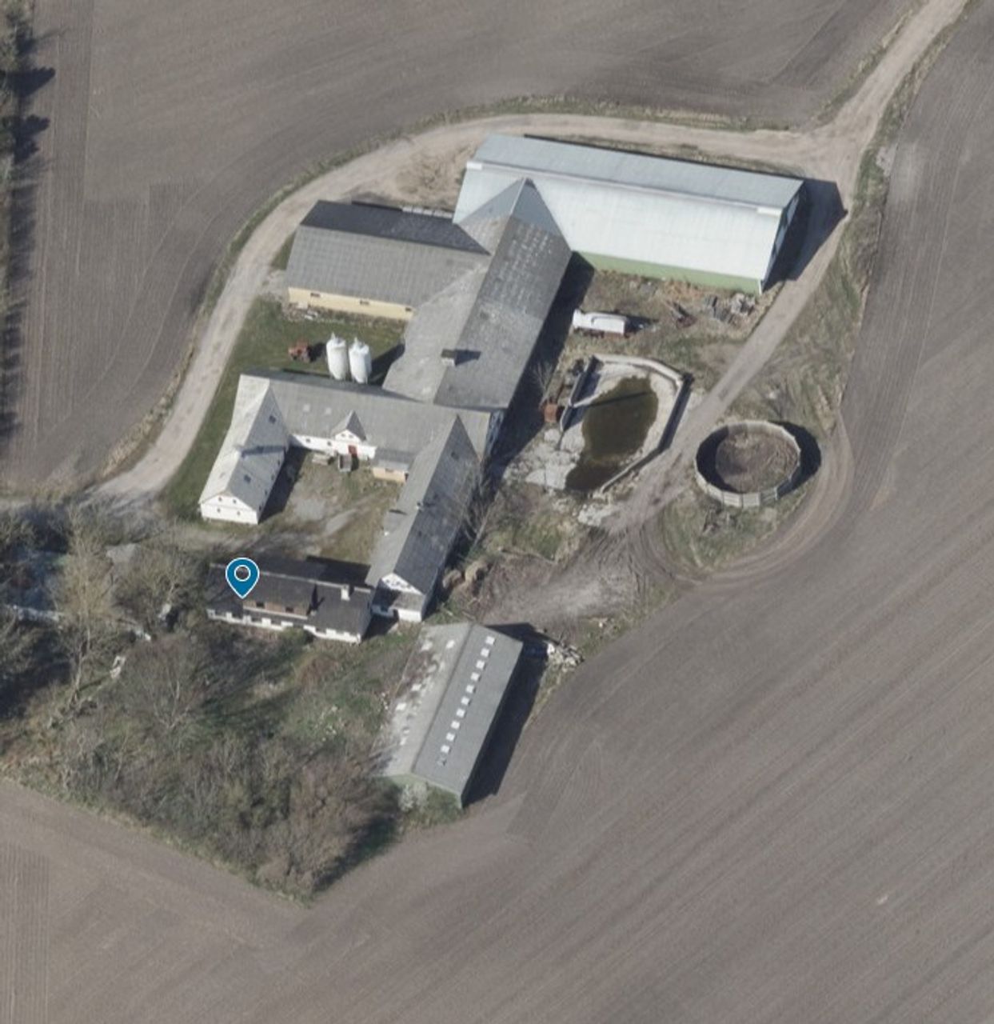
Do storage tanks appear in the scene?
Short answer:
Yes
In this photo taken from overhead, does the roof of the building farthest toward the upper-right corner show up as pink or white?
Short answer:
white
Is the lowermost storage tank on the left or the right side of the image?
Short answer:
right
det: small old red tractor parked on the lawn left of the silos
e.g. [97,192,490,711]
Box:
[286,343,311,362]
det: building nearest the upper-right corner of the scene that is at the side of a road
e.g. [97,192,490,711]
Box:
[455,136,801,293]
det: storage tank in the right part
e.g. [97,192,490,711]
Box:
[696,420,801,506]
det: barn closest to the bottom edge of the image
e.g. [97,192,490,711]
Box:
[364,624,525,806]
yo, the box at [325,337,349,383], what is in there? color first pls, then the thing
white silo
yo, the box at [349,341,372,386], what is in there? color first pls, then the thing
white silo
